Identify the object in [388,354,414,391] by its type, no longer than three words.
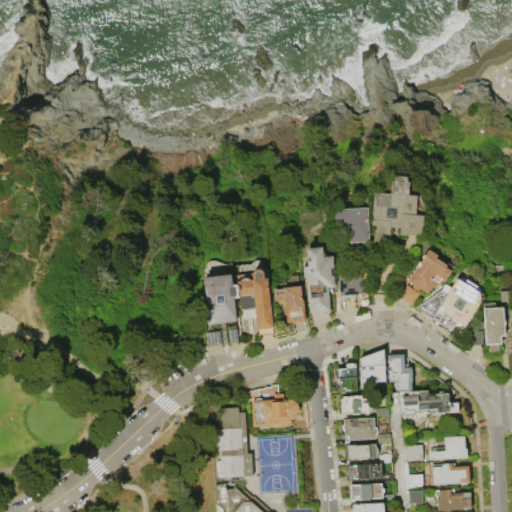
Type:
house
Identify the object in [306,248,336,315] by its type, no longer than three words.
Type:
house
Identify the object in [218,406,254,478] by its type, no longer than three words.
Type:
building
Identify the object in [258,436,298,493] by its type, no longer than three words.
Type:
basketball court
